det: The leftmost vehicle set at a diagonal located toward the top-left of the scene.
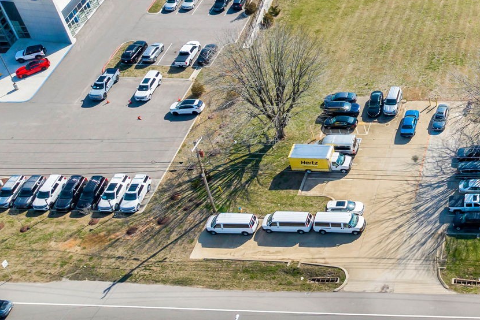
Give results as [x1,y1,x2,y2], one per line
[89,68,123,99]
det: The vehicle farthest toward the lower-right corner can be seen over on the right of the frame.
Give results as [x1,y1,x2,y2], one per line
[452,210,480,231]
